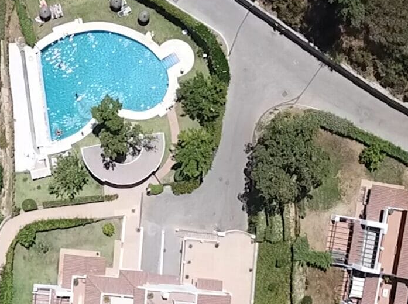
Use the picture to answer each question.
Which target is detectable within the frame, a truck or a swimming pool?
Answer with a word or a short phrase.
swimming pool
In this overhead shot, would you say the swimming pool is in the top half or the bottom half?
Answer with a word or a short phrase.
top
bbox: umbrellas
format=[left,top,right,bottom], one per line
[137,12,149,23]
[39,8,52,19]
[110,0,122,9]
